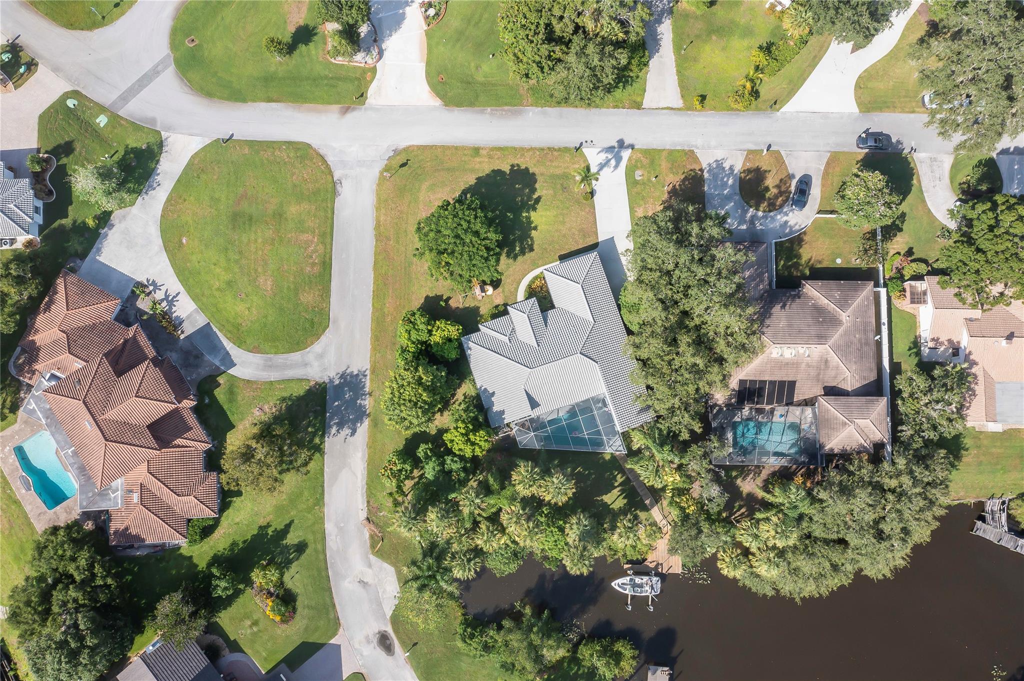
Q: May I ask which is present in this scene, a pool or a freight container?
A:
pool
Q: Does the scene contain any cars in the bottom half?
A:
No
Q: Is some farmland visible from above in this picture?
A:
No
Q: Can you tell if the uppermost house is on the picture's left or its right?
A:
left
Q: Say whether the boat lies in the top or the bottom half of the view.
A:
bottom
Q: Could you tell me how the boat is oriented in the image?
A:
horizontally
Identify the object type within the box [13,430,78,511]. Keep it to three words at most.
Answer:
swimming pool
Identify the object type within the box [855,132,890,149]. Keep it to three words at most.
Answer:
car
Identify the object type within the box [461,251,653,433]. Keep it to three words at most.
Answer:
house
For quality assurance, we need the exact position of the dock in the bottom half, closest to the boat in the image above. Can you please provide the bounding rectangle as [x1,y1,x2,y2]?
[623,526,682,575]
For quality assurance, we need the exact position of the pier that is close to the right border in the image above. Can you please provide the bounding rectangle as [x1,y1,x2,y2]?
[967,498,1024,555]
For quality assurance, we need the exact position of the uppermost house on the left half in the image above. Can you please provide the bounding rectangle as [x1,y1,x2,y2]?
[0,160,45,236]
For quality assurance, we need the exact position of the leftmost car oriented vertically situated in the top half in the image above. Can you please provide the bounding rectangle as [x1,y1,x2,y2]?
[791,174,811,211]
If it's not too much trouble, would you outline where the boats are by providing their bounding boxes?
[611,576,661,598]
